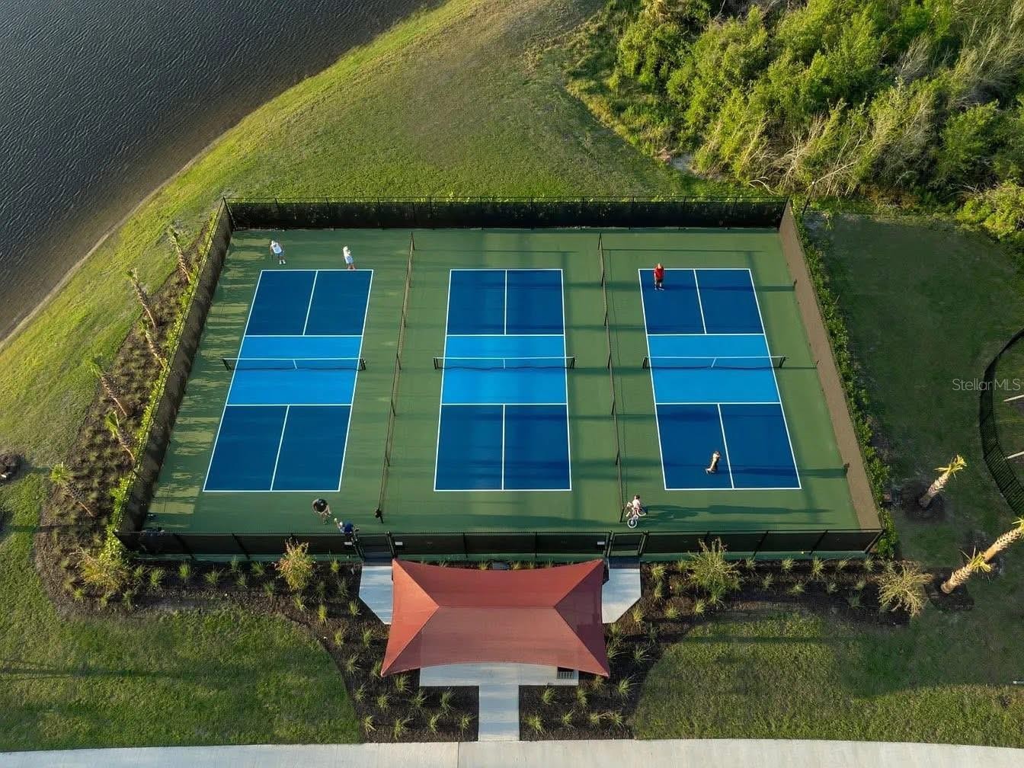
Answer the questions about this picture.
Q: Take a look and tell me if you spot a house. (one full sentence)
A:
No, no house is visible in the scene.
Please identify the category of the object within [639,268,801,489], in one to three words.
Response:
sports court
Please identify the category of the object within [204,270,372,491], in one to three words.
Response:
sports court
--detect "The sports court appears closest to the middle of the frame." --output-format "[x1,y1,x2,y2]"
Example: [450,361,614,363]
[435,269,571,490]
